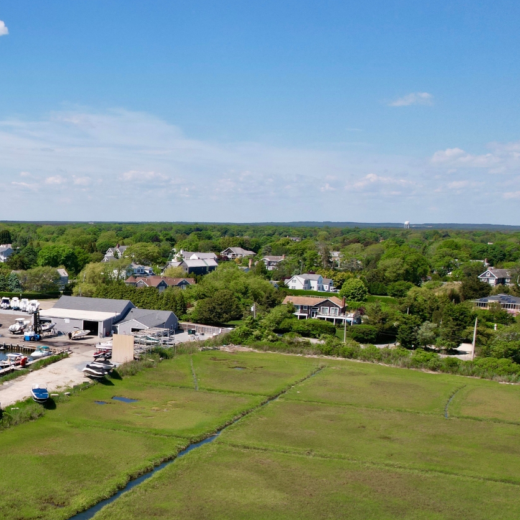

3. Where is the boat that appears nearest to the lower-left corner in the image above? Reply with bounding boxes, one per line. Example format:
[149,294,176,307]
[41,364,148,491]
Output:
[28,378,49,396]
